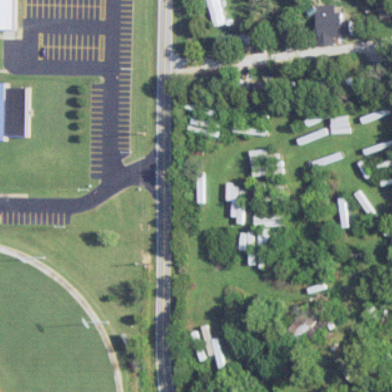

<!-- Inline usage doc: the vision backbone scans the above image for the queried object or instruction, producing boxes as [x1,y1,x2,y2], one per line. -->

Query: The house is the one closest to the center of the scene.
[196,172,208,204]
